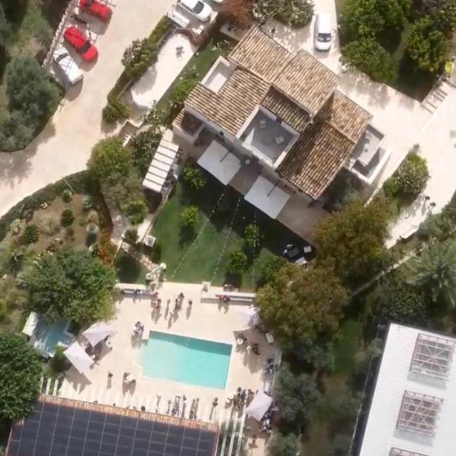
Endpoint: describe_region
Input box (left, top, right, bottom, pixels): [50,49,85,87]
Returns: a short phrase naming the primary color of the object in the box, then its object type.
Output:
white car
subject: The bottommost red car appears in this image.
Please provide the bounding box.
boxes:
[64,27,98,61]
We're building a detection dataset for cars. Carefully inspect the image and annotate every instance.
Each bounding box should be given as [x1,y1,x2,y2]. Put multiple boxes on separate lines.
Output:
[176,0,214,25]
[78,0,114,23]
[64,27,98,61]
[313,11,334,53]
[50,49,85,87]
[212,0,231,7]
